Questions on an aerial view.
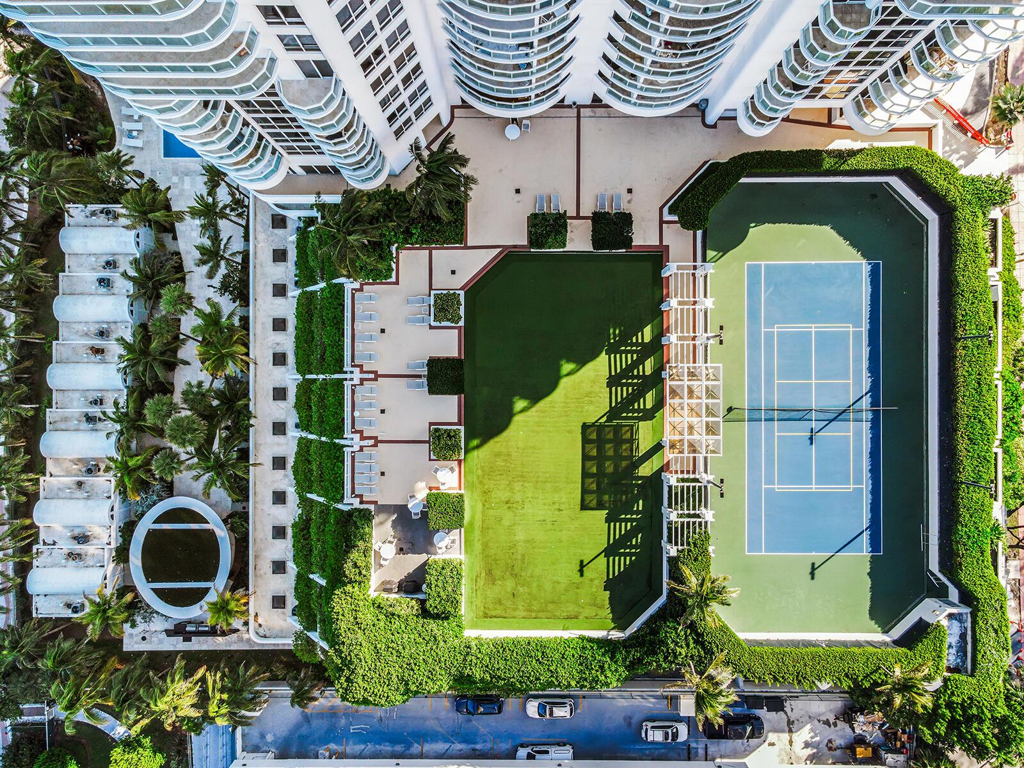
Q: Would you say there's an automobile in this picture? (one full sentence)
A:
Yes, the photo shows an automobile.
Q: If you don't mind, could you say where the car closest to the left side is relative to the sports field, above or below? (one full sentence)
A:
In the image, the car closest to the left side sits below the sports field.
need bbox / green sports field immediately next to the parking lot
[465,251,662,630]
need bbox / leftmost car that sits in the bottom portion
[455,692,503,719]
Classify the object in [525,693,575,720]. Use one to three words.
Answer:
car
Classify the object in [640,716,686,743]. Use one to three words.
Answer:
car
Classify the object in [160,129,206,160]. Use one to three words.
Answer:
swimming pool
